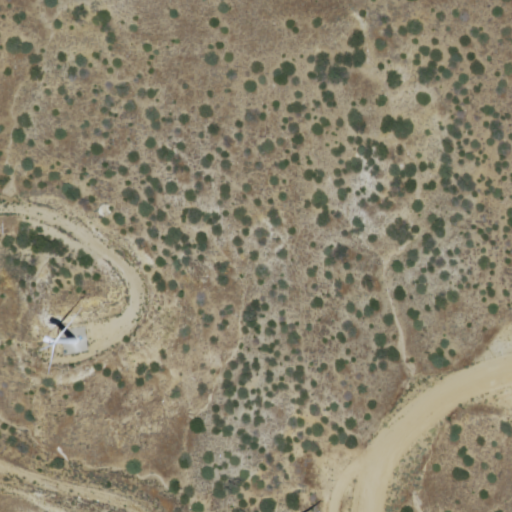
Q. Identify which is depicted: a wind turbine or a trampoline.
wind turbine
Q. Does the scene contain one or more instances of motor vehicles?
No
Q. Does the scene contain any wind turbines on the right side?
No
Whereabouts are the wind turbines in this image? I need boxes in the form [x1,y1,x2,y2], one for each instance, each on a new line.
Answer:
[36,310,82,373]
